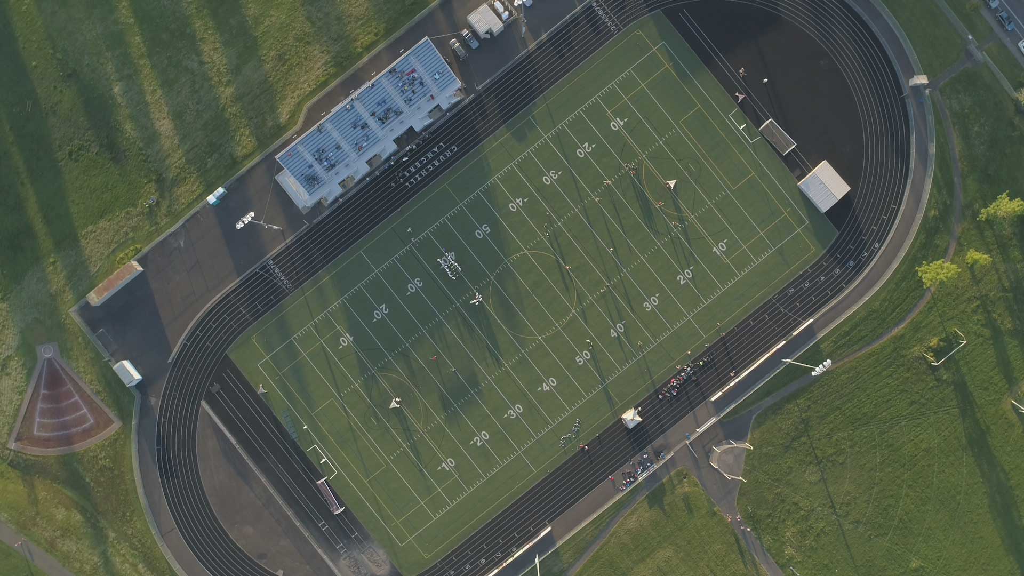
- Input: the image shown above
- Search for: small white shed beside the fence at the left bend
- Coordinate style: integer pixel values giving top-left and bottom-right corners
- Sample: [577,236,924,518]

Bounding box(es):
[114,358,146,388]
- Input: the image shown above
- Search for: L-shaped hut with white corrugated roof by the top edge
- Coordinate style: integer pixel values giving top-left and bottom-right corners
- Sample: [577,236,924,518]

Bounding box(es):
[468,4,505,43]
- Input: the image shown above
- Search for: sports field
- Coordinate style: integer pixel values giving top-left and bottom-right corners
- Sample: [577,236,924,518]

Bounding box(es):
[227,10,838,576]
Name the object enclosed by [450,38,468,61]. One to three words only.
car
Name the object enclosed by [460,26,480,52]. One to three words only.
vehicle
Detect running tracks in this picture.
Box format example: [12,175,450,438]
[155,0,909,576]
